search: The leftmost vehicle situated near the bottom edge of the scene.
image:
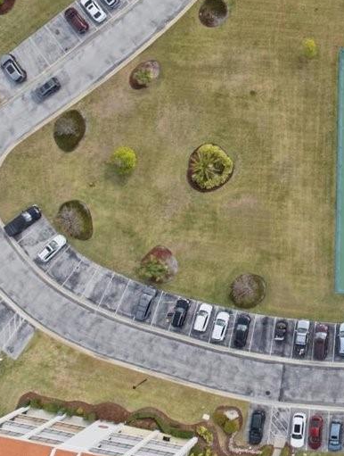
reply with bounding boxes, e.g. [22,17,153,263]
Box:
[247,412,265,447]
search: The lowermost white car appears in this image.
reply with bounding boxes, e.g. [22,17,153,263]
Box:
[289,415,304,449]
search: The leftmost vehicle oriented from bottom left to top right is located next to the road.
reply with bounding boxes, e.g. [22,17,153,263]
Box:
[0,207,40,238]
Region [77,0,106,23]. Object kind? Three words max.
car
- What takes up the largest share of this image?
grass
